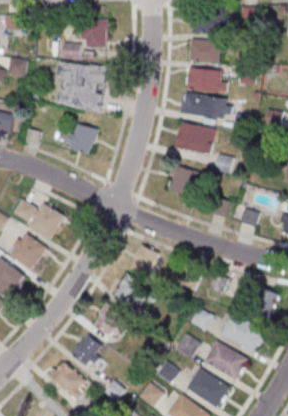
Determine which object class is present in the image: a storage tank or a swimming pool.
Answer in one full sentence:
It is a swimming pool that can be seen here.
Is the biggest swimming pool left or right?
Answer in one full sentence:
The biggest swimming pool appears in the right half of the scene.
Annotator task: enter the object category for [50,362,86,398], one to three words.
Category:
house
